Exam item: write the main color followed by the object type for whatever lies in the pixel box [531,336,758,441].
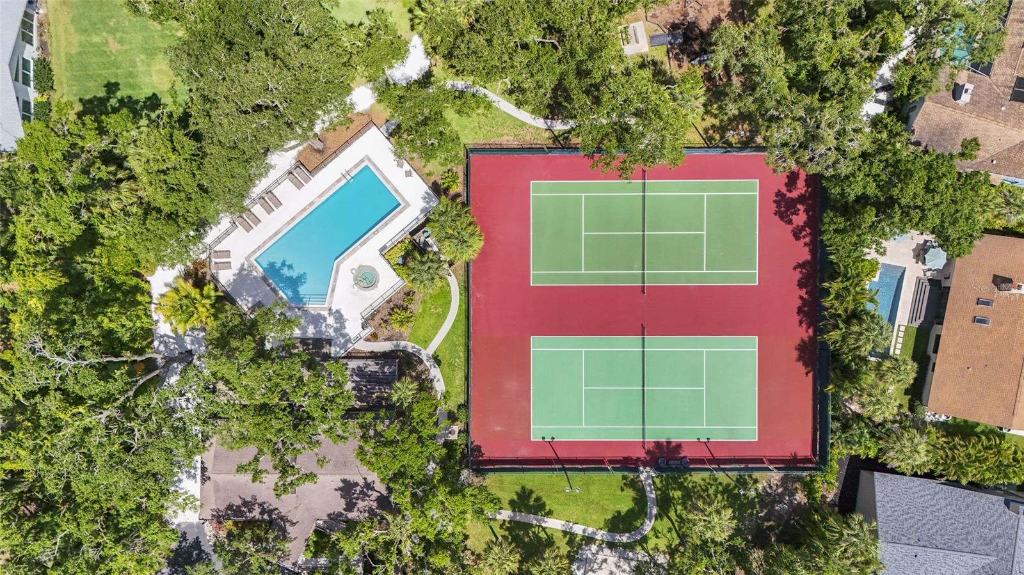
green tennis court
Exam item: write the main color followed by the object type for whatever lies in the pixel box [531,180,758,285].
green tennis court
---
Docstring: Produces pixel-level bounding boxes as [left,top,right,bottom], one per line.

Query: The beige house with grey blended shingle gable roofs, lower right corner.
[861,467,1024,575]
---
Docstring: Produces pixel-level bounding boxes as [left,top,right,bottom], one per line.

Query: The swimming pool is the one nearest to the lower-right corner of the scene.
[869,263,905,356]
